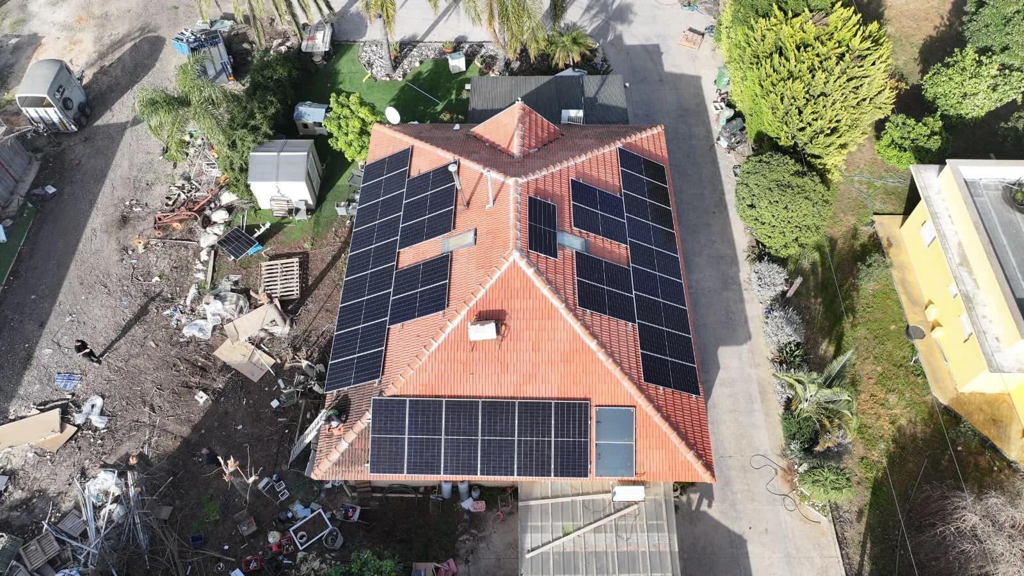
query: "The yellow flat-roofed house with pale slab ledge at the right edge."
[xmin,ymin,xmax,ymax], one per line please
[902,152,1024,416]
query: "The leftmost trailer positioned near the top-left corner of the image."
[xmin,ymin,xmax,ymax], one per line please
[18,60,94,131]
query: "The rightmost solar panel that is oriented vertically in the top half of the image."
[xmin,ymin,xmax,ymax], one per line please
[530,195,559,262]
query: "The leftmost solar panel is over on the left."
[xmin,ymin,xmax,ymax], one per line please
[218,227,258,260]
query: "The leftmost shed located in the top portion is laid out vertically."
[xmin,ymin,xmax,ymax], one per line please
[0,111,46,217]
